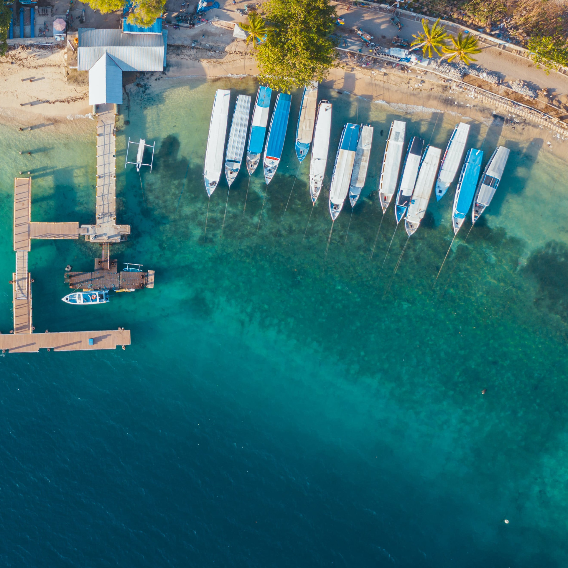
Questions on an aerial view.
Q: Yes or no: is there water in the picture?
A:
Yes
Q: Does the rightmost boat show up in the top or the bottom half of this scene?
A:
top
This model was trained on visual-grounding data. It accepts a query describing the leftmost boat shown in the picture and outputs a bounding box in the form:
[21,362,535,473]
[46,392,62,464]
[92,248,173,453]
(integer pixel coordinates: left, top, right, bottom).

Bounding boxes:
[62,290,111,305]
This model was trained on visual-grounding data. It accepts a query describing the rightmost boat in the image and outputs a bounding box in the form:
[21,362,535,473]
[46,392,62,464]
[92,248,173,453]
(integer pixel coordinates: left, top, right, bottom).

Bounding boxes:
[464,146,509,238]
